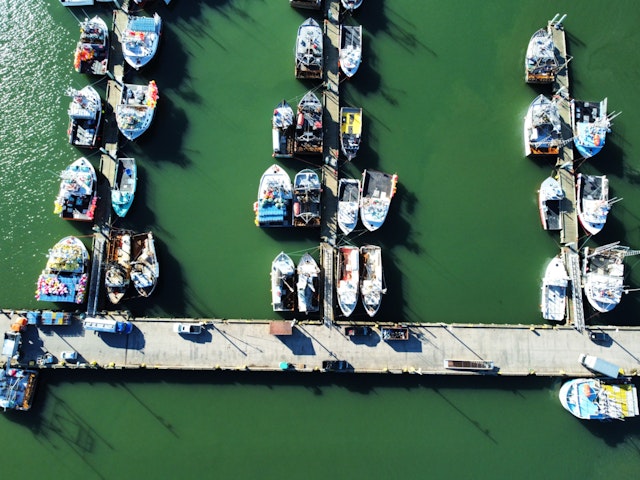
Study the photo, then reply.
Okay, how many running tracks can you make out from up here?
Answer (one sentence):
The photo contains no running tracks.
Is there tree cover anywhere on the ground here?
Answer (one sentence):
No, there's no tree cover in this view.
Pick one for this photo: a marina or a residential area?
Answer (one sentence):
The picture captures a marina.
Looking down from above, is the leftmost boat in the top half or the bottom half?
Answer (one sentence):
The leftmost boat sits in the bottom half of the picture.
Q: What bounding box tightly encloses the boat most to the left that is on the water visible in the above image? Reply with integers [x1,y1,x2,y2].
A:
[0,367,43,414]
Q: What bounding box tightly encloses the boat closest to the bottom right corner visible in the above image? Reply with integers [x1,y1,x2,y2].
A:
[558,376,640,424]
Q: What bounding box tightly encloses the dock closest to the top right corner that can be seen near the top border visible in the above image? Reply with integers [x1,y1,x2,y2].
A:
[548,22,570,90]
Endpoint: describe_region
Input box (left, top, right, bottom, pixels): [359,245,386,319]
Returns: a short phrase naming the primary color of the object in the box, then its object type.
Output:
white boat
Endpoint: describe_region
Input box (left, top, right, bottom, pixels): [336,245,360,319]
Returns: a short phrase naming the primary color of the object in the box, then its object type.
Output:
white boat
